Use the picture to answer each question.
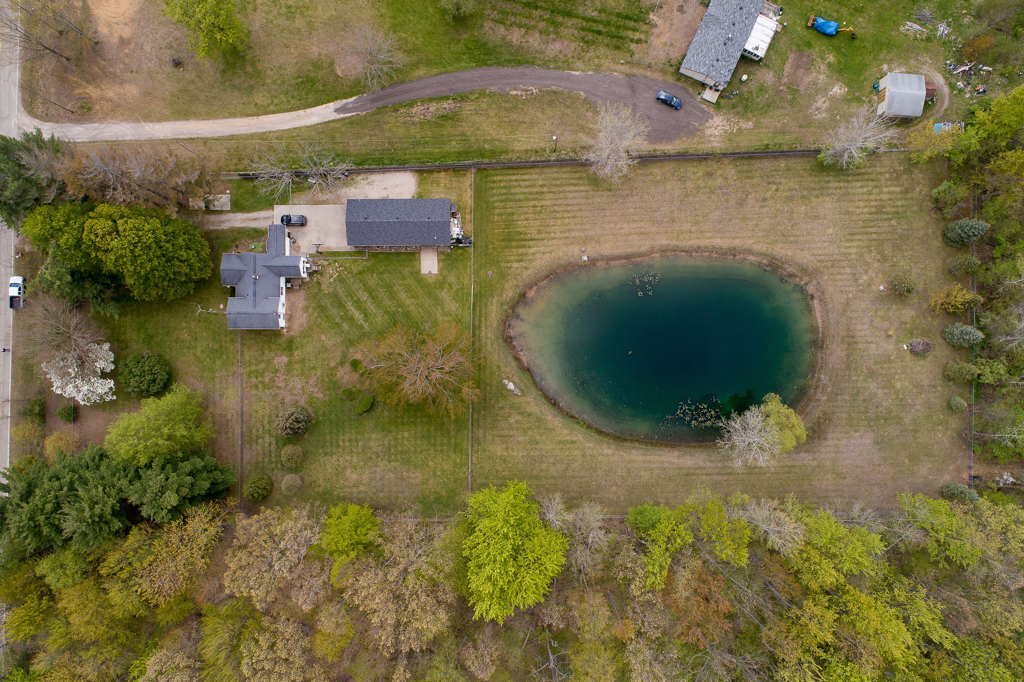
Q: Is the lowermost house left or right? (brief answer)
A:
left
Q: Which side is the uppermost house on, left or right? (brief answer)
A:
right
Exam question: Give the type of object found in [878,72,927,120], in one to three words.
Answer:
shed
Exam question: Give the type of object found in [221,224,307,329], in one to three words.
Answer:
house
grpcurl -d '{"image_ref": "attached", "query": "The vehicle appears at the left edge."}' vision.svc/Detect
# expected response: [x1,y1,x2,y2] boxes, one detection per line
[3,276,22,309]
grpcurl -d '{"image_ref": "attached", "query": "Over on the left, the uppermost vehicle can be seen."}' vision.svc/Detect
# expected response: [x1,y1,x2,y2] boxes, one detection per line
[279,212,307,226]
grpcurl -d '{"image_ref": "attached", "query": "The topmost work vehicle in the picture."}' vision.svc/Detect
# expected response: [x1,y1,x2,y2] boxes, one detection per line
[807,13,855,42]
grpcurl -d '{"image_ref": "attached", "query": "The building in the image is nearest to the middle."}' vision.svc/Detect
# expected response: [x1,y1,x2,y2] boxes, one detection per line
[345,198,450,246]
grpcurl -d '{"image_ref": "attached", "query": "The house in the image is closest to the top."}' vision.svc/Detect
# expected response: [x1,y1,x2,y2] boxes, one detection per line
[678,0,766,90]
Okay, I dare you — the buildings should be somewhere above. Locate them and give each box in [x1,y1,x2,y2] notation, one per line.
[345,198,450,246]
[678,0,766,90]
[221,224,307,329]
[878,72,927,120]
